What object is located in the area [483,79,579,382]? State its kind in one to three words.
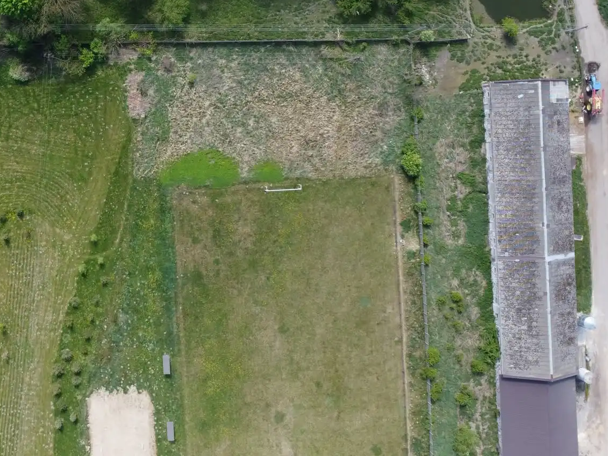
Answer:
barn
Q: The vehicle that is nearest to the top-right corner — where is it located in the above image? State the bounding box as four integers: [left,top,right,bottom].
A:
[586,73,603,92]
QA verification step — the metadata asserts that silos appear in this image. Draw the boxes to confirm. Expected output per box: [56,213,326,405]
[578,371,595,384]
[577,318,596,333]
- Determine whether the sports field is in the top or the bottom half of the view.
bottom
